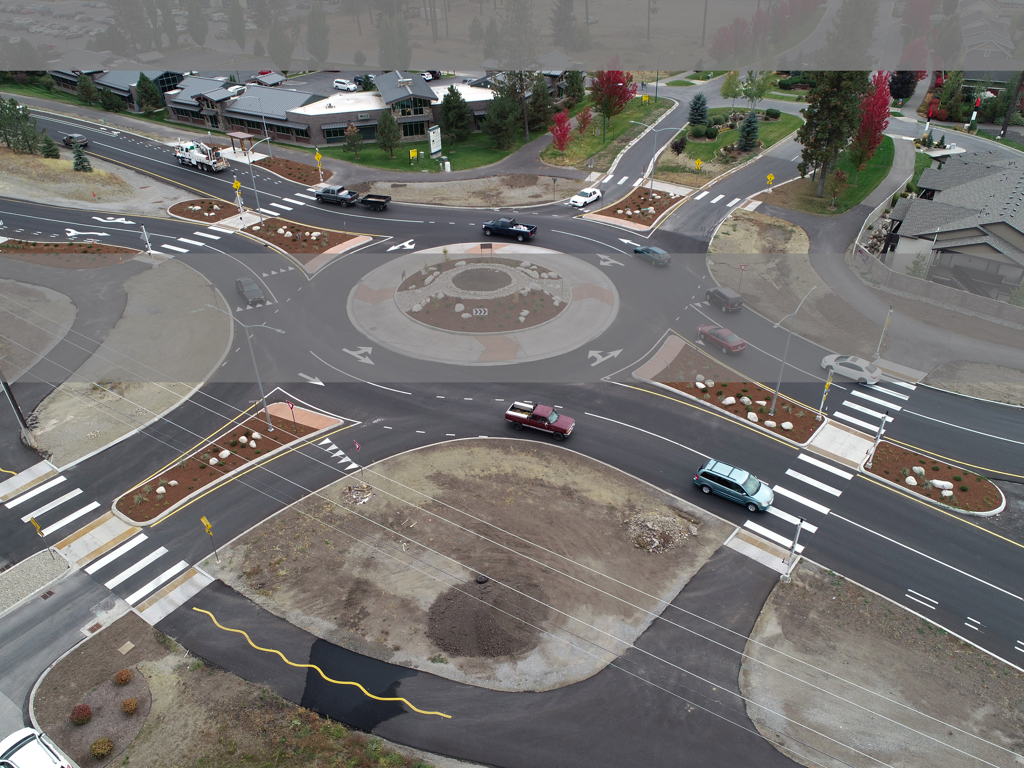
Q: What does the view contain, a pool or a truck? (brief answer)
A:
truck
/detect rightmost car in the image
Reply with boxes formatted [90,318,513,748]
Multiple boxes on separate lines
[820,353,887,385]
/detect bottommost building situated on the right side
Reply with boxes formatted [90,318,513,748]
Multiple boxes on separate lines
[877,116,1024,300]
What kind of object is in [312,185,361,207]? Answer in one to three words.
truck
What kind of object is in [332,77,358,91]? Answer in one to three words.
car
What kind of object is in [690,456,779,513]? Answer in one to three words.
car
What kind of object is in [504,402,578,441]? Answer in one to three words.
truck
